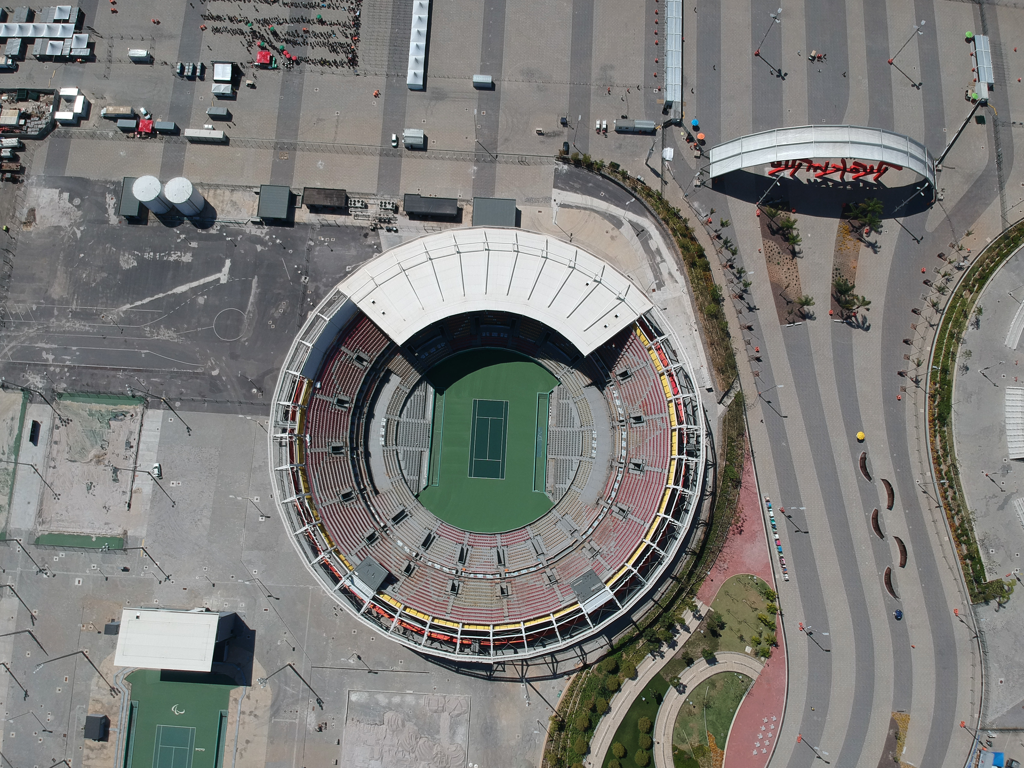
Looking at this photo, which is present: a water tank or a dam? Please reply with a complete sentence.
I can see a water tank in this picture.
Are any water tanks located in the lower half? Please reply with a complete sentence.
No, the scene shows no water tank in the lower half.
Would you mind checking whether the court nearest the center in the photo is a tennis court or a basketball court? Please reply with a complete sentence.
In the photo, the court nearest the center shows up as a tennis court.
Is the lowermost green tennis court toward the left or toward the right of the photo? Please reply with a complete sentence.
The lowermost green tennis court sits on the left side.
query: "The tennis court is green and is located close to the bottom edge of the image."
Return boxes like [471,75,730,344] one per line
[120,668,242,768]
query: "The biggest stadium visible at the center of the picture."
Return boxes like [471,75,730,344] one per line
[268,224,706,662]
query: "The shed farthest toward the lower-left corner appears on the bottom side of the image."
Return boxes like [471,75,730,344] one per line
[84,714,109,739]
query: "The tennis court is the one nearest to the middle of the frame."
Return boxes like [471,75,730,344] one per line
[399,353,580,533]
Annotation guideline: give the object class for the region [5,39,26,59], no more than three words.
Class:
building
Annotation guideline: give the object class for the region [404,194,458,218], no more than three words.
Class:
building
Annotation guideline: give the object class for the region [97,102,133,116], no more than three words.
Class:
vehicle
